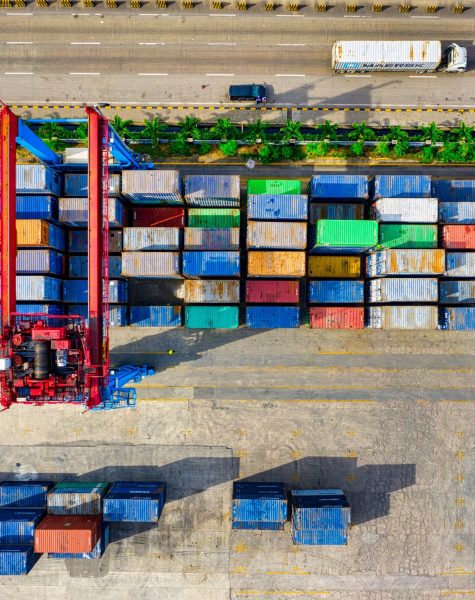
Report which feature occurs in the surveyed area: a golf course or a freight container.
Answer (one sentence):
Of the two, only a freight container appears.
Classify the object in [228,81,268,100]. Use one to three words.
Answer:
car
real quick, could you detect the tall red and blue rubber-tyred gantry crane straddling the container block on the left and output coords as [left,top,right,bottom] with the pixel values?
[0,94,158,416]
